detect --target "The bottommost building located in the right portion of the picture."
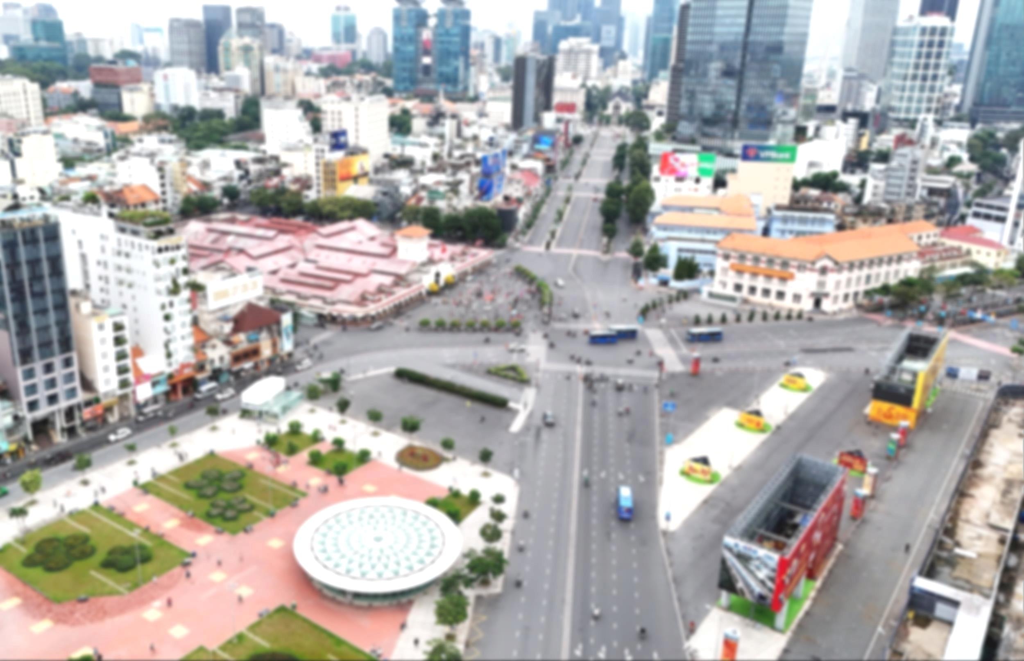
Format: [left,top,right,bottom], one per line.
[706,453,847,638]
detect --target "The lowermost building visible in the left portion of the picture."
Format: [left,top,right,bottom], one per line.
[292,498,462,614]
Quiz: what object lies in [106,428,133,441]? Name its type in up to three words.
vehicle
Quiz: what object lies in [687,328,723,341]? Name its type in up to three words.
vehicle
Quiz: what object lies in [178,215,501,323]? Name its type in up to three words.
building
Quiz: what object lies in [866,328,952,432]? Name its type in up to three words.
building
